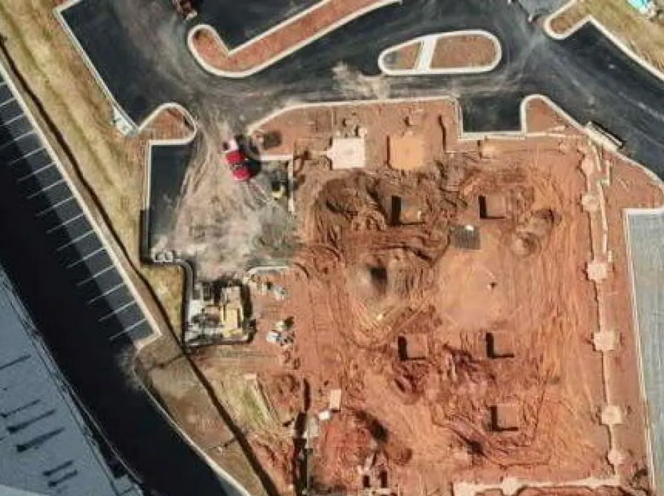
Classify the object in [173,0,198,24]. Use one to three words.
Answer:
truck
